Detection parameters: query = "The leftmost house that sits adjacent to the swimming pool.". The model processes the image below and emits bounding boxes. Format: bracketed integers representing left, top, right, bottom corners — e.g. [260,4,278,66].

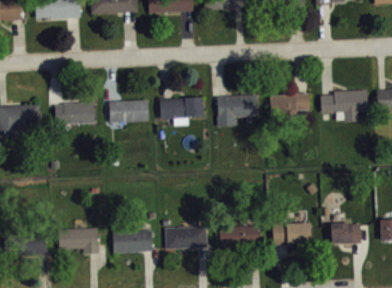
[160,96,205,126]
